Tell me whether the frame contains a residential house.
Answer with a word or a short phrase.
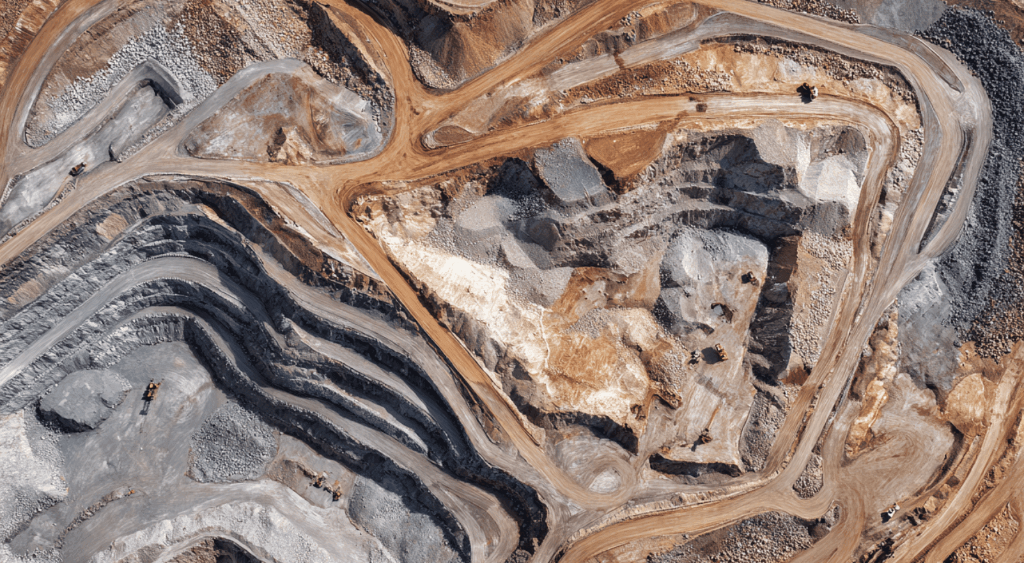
No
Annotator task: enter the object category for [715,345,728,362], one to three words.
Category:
vehicle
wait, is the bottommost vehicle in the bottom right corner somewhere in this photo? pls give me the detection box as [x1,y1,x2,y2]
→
[886,504,902,517]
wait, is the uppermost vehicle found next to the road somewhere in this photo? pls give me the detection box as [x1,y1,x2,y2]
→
[803,84,820,101]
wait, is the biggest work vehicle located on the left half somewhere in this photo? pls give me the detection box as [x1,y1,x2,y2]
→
[141,381,156,410]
